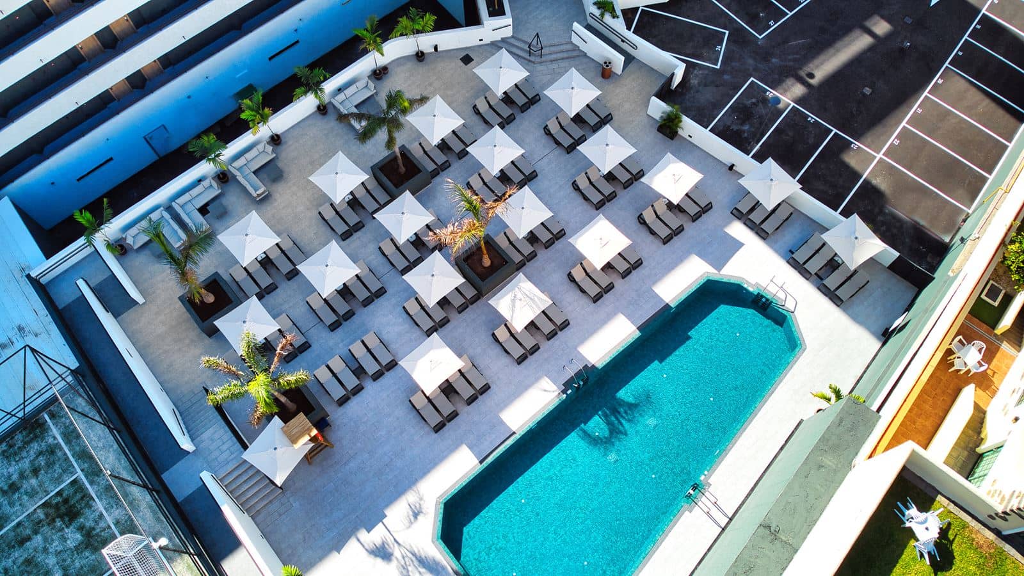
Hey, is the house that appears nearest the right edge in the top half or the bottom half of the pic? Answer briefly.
bottom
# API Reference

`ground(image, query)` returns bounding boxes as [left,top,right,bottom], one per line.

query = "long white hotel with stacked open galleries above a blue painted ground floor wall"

[0,0,401,235]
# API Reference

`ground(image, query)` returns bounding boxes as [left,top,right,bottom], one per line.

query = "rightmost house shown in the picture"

[968,416,1024,527]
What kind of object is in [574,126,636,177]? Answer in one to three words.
umbrella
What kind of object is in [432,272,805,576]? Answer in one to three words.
swimming pool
